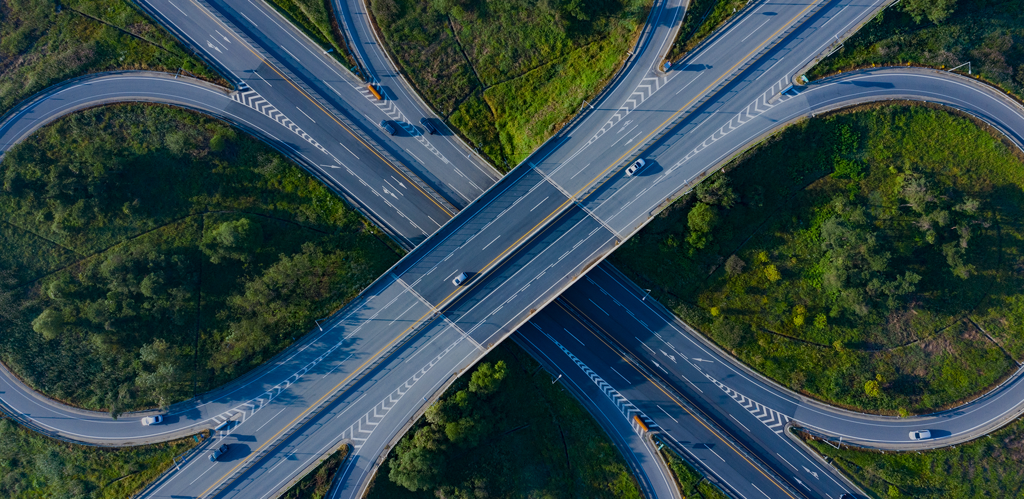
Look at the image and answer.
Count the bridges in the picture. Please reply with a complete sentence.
There is 1 bridge in the image.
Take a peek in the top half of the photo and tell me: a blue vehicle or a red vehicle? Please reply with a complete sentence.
What appears in the top half of the photo is a blue vehicle.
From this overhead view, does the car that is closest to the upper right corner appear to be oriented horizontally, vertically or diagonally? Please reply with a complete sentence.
I'd say the car that is closest to the upper right corner is aligned diagonally in the picture.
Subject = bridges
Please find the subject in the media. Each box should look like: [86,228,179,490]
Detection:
[340,133,656,378]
